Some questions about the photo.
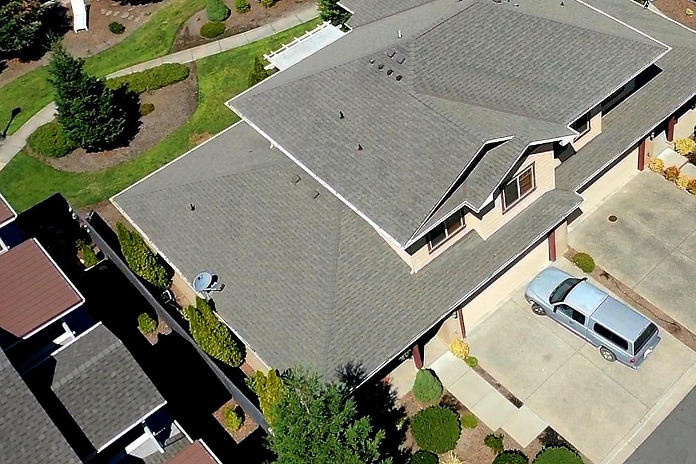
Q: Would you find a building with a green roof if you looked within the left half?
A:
No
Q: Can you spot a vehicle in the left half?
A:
No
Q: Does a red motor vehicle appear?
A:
No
